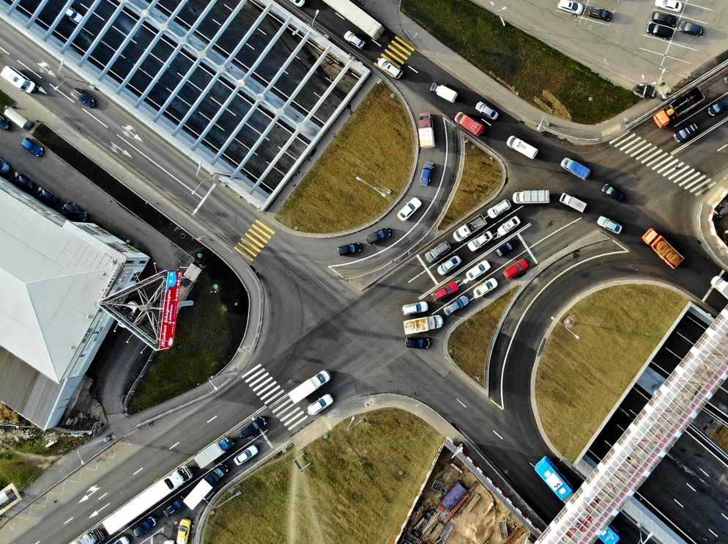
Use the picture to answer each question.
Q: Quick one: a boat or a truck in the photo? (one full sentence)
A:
It is a truck that can be seen here.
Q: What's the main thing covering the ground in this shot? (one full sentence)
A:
What you mostly see from above here is paved ground.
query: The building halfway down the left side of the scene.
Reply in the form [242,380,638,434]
[0,175,150,432]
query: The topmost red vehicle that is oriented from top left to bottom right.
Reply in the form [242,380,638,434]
[453,113,486,139]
